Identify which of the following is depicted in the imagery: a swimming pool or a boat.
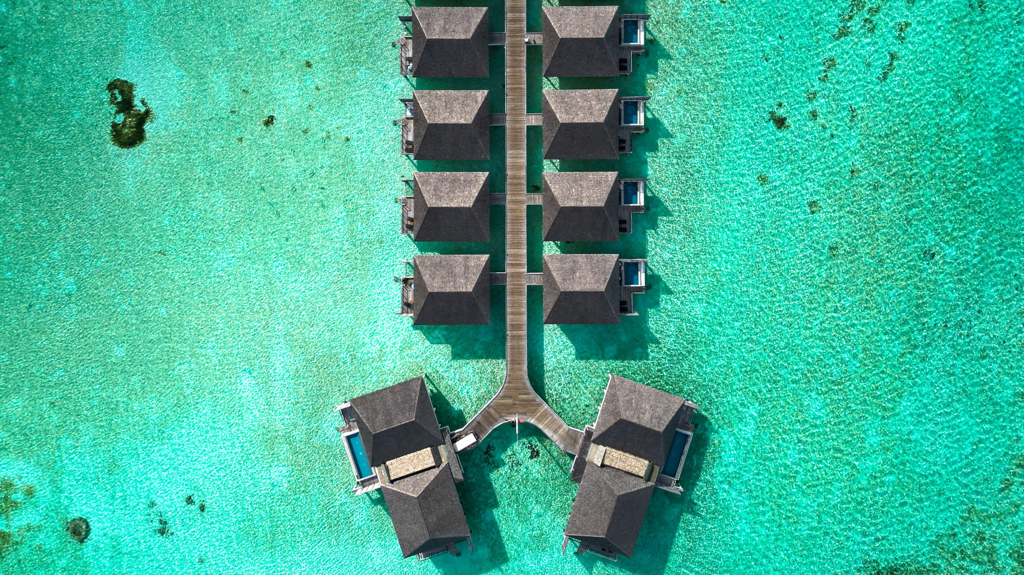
swimming pool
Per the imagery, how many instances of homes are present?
10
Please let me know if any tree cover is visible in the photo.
No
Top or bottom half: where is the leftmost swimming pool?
bottom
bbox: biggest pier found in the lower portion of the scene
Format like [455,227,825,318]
[449,370,584,456]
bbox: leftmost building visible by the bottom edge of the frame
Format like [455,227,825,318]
[333,371,474,561]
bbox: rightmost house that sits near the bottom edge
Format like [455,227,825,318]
[560,371,701,561]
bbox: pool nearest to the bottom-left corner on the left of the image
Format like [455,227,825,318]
[344,428,376,479]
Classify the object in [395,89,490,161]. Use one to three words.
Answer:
house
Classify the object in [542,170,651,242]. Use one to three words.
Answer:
house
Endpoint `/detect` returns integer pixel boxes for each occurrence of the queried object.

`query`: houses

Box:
[560,371,701,561]
[396,254,490,325]
[394,6,489,78]
[395,89,490,161]
[542,5,651,77]
[543,253,652,325]
[542,170,651,242]
[333,371,474,561]
[396,171,490,242]
[542,88,651,160]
